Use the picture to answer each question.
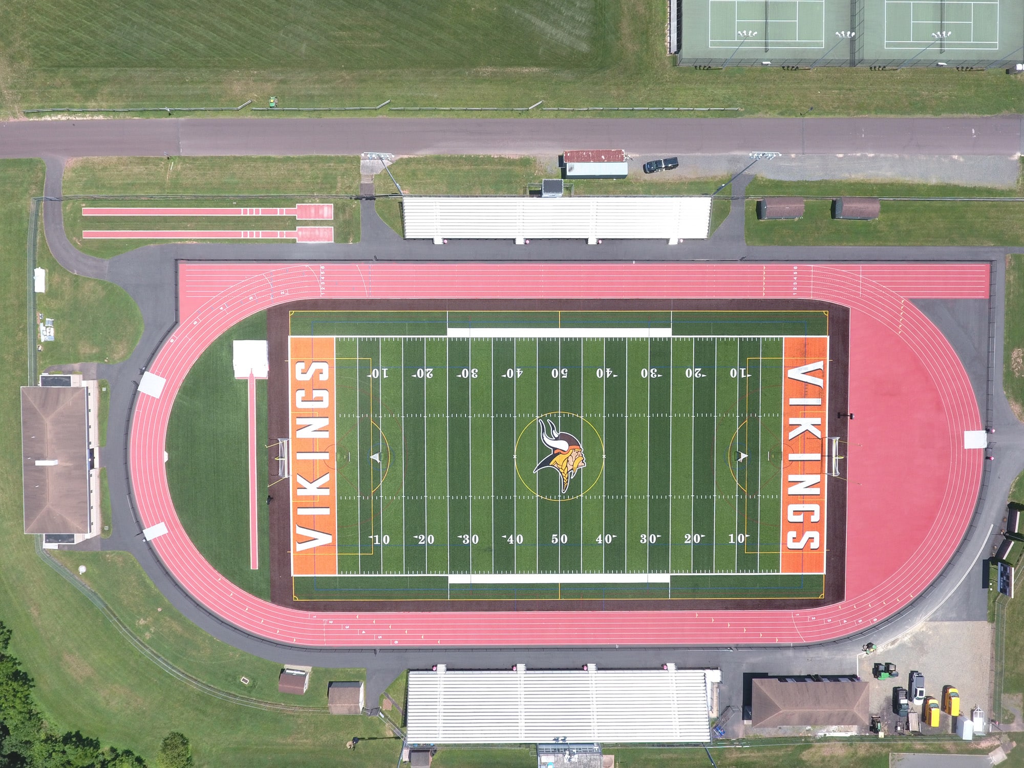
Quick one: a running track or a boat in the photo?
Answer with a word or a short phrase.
running track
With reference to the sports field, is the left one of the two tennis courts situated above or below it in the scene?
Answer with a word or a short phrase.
above it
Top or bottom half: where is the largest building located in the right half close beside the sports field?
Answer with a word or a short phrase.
bottom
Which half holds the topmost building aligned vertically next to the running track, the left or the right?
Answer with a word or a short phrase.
left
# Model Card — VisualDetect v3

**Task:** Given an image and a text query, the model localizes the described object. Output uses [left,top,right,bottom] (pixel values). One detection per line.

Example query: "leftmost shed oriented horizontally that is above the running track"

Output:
[760,197,806,218]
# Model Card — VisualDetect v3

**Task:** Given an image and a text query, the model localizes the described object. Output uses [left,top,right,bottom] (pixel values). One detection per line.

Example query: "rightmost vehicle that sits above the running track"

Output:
[645,155,679,172]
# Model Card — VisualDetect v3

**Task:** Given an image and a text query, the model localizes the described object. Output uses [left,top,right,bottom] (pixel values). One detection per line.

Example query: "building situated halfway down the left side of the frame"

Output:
[20,374,104,548]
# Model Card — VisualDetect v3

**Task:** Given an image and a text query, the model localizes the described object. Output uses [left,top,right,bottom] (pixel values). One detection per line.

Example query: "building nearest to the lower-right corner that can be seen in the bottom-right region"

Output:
[744,670,870,728]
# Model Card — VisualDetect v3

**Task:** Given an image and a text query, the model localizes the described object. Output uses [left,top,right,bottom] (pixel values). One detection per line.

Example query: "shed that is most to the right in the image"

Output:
[835,197,884,219]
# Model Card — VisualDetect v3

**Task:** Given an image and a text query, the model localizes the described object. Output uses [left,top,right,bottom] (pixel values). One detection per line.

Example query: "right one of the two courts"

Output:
[856,0,1021,68]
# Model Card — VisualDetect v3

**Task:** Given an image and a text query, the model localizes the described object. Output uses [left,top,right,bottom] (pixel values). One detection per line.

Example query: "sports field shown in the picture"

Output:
[165,298,850,613]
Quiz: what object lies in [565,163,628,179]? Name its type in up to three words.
trailer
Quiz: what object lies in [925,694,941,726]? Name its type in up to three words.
vehicle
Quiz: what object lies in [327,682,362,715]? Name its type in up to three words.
shed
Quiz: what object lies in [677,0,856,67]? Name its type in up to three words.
tennis court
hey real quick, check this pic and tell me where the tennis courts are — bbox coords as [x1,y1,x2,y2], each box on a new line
[856,0,1021,68]
[677,0,856,67]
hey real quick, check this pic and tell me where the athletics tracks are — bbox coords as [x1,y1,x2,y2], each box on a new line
[129,264,990,646]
